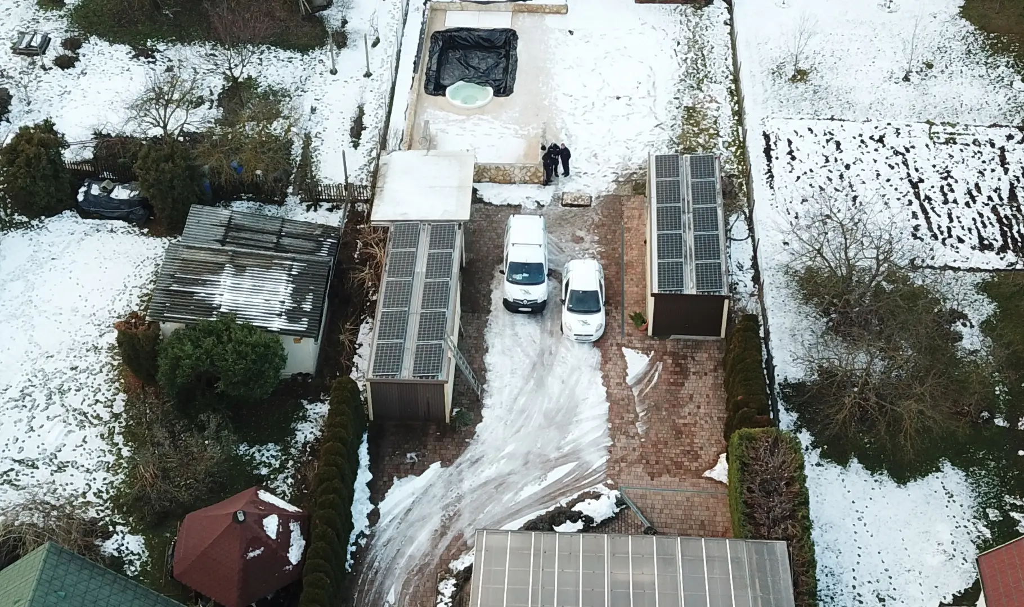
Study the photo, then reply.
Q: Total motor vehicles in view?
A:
2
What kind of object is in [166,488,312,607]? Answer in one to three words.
gazebo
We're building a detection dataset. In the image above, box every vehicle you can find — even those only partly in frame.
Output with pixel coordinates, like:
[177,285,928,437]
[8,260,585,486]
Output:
[558,262,610,340]
[500,215,553,310]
